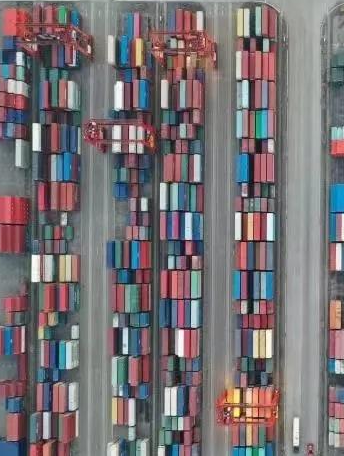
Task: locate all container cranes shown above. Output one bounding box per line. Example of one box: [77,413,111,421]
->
[16,21,95,62]
[215,389,280,426]
[85,119,158,155]
[148,30,219,71]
